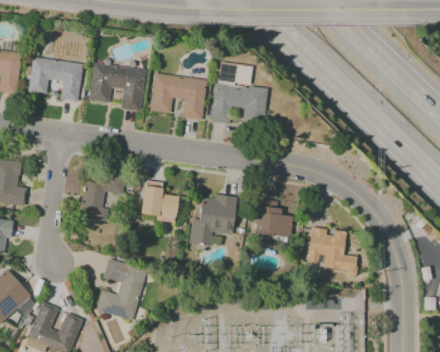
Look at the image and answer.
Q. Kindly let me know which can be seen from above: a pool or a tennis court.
pool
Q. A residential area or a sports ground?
residential area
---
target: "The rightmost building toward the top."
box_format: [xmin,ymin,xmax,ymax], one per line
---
[211,64,270,124]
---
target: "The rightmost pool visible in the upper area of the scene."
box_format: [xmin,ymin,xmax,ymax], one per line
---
[182,51,207,69]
